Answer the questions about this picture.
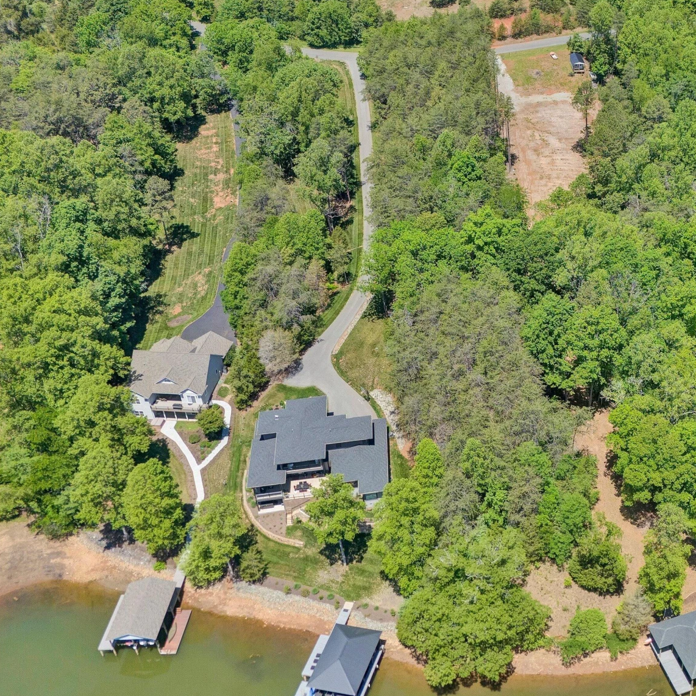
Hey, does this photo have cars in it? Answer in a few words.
No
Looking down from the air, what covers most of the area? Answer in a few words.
trees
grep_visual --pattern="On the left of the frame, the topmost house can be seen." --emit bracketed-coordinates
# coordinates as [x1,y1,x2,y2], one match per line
[120,331,233,421]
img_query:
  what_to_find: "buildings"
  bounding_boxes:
[99,573,190,657]
[645,611,696,696]
[295,602,385,696]
[120,331,233,421]
[565,51,584,72]
[247,394,390,522]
